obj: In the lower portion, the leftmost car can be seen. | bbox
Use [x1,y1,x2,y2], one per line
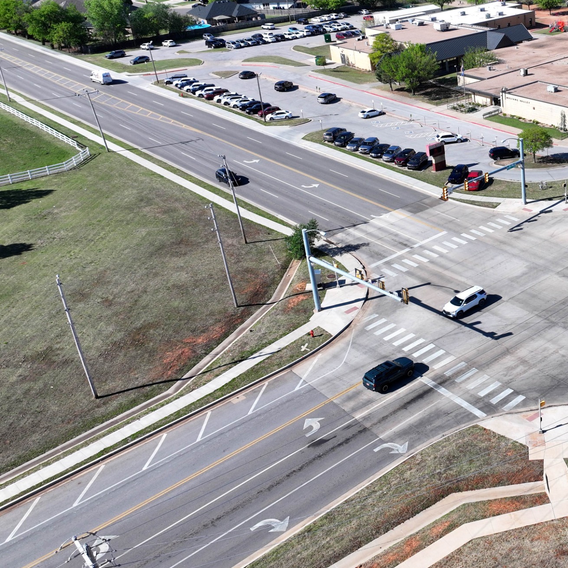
[358,360,417,398]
